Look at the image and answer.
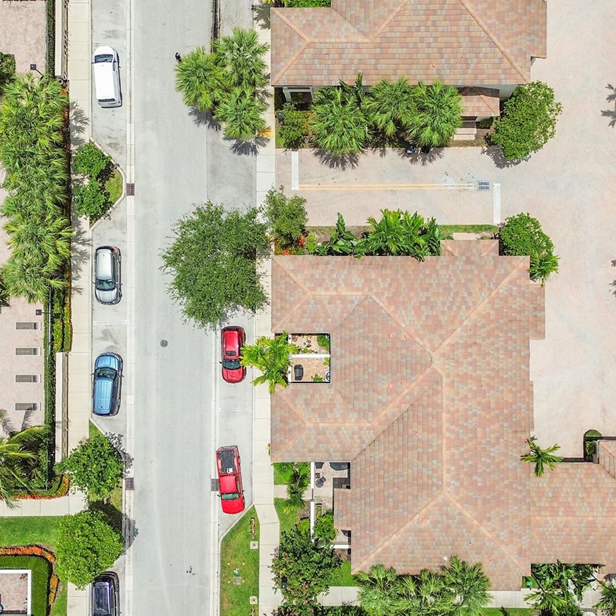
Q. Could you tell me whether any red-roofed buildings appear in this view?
No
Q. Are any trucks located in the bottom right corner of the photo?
No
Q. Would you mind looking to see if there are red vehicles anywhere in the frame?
Yes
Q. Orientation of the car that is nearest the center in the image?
from top to bottom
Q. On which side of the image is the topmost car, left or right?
left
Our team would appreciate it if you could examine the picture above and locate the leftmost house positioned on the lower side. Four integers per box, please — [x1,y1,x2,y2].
[270,239,545,592]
